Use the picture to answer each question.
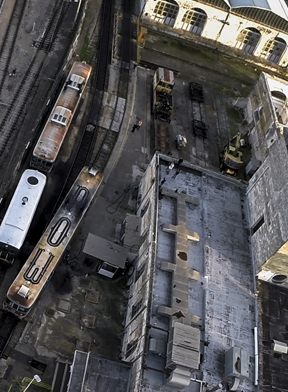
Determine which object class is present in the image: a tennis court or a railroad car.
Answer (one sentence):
I can see a railroad car in this picture.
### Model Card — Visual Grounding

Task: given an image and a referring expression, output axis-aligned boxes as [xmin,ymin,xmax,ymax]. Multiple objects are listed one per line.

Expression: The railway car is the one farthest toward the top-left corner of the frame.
[28,62,94,177]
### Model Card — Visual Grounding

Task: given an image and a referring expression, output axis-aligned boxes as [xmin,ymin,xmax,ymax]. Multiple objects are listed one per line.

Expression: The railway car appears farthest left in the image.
[0,171,46,271]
